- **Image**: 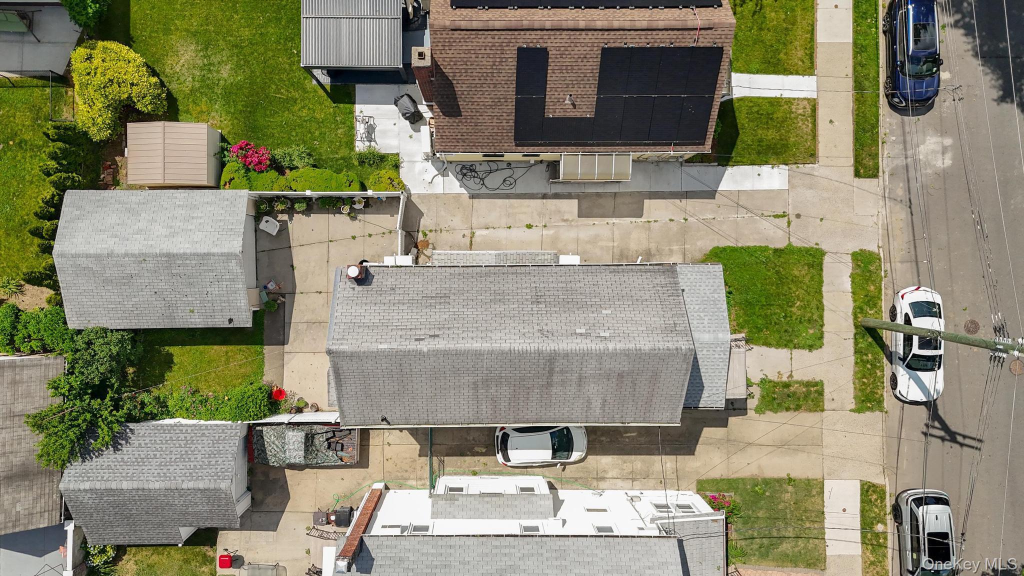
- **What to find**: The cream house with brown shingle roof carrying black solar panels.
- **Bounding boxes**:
[411,0,736,190]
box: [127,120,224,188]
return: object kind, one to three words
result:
shed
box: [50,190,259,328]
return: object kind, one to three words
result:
building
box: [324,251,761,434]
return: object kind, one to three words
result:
house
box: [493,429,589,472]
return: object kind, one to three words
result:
car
